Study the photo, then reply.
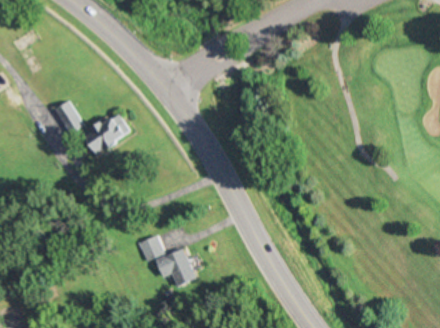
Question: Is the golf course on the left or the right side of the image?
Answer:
right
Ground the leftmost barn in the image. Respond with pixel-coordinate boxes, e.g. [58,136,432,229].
[54,100,82,131]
